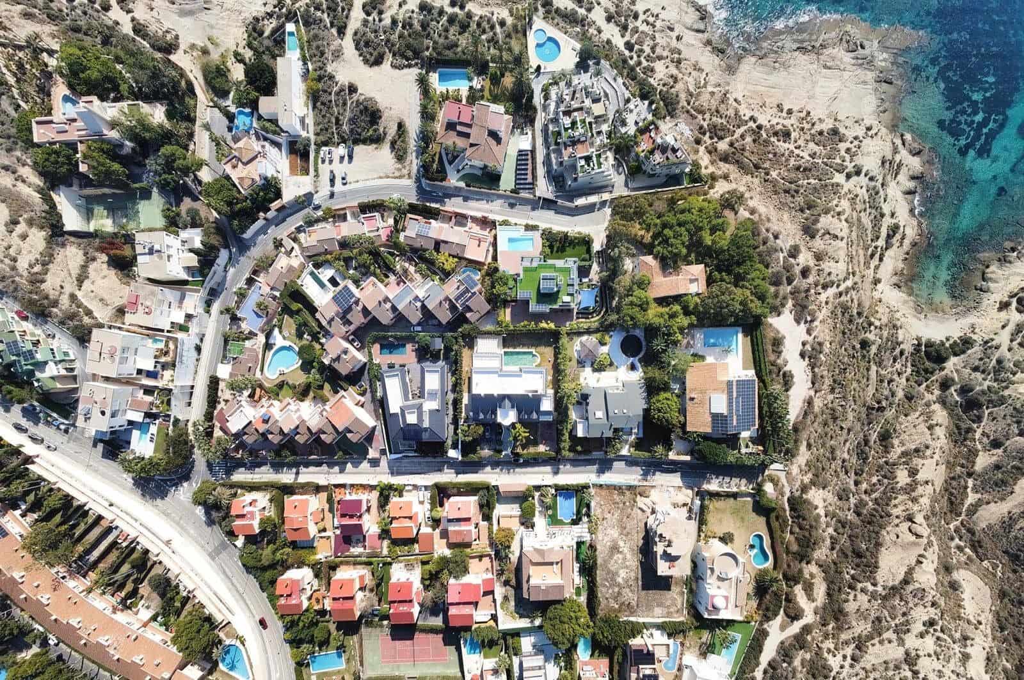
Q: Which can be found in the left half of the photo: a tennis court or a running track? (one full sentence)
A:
The feature located in the left half of the photo is a tennis court.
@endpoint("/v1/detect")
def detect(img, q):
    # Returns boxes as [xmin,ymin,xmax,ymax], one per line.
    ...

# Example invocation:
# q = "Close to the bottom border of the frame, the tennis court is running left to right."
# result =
[362,630,462,675]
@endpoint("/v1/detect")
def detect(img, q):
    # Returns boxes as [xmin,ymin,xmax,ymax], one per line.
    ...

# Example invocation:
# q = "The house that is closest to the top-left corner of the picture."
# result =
[35,96,168,146]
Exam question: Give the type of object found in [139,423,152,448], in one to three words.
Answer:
swimming pool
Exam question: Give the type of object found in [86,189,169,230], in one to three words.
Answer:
tennis court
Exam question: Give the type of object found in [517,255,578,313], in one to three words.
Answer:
house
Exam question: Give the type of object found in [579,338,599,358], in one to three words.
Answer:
gazebo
